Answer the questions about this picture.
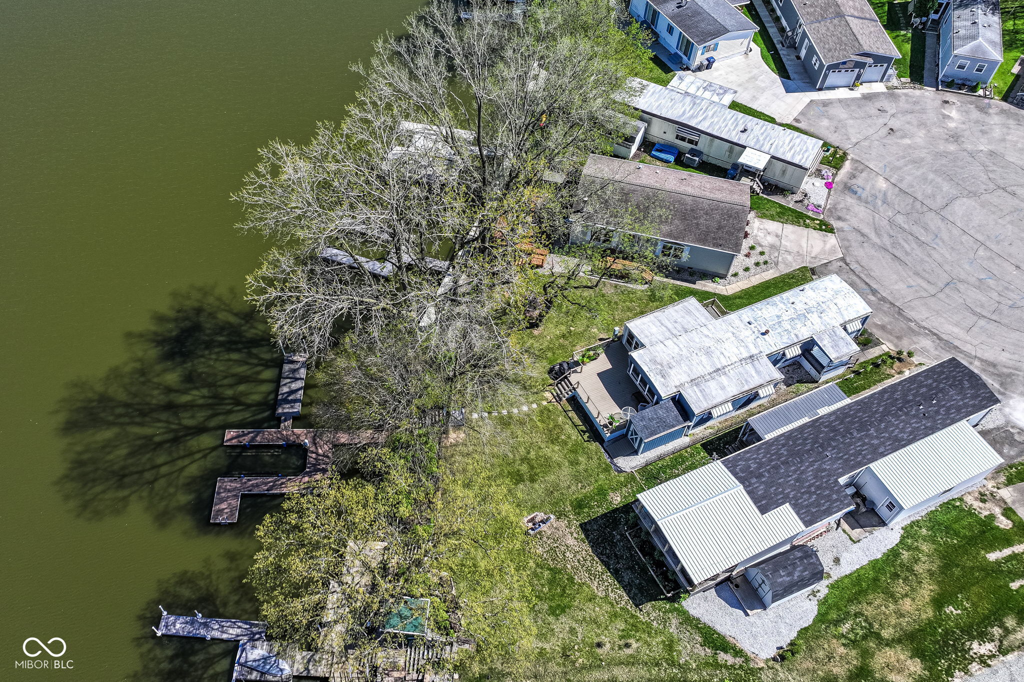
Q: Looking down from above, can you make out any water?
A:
Yes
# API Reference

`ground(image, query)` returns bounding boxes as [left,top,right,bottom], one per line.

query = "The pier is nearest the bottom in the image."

[223,641,300,682]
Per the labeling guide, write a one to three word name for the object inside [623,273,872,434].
house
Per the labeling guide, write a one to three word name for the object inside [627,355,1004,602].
house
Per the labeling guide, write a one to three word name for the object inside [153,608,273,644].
pier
